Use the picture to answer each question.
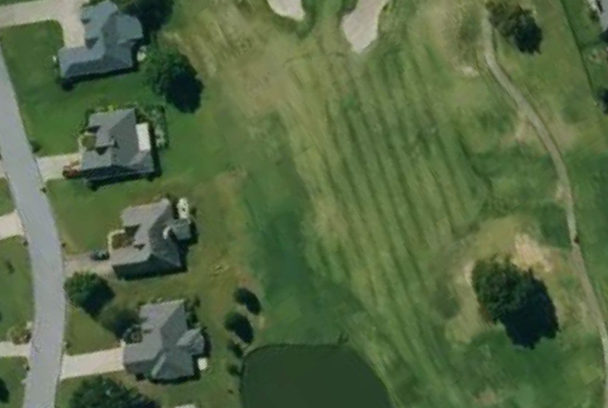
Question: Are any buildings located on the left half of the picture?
Yes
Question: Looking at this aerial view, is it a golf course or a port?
golf course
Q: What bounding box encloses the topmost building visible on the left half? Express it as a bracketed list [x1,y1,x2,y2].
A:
[57,0,144,83]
